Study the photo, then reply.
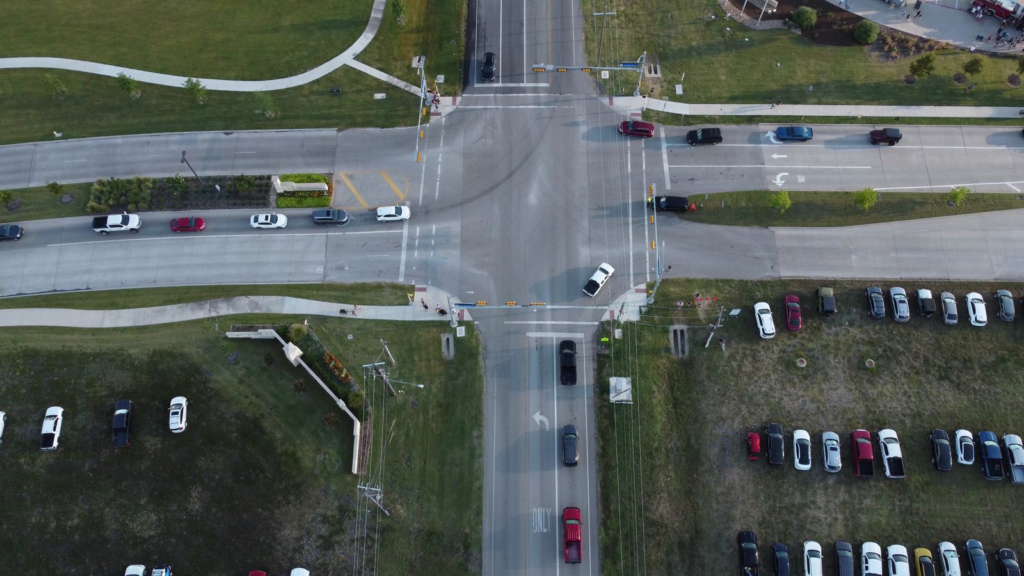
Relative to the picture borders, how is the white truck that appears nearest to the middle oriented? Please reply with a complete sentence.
The white truck that appears nearest to the middle runs at an angle in the image.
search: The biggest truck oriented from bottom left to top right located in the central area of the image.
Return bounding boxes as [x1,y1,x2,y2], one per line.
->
[581,261,615,299]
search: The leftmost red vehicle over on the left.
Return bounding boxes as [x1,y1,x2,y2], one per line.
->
[169,216,207,234]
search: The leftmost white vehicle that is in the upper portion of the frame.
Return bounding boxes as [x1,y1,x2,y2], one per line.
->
[89,213,143,234]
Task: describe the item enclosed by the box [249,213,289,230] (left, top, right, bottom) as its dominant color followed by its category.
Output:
white car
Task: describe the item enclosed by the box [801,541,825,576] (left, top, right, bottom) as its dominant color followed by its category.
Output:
white car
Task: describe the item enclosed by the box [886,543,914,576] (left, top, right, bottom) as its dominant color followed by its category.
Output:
white truck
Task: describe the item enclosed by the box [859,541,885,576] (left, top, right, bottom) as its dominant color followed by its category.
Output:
white truck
